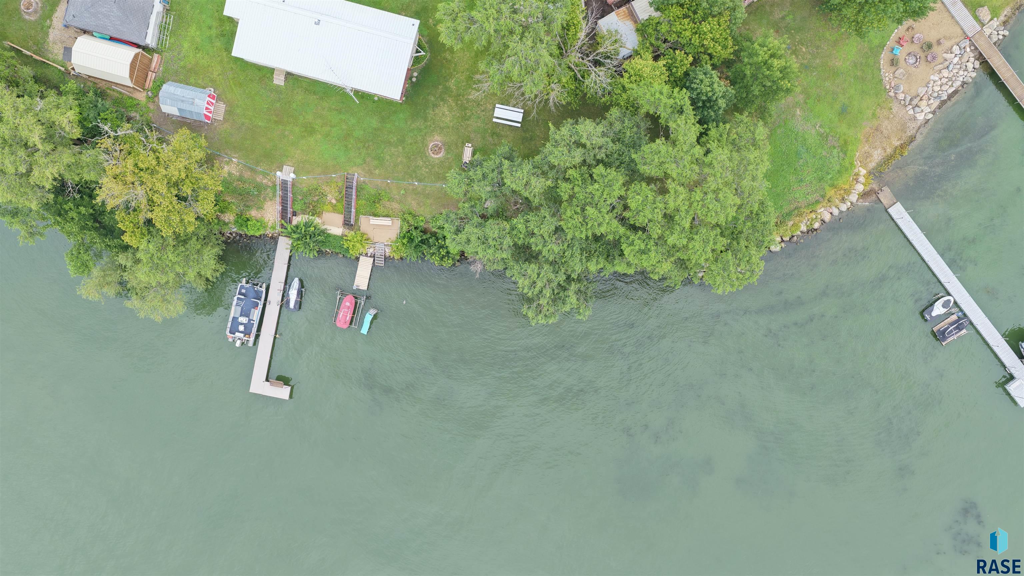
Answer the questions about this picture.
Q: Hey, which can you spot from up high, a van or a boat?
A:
boat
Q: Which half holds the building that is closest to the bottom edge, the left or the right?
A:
left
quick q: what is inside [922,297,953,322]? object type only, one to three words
vessel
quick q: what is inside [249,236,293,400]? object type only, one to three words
pier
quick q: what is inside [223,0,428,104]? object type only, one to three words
house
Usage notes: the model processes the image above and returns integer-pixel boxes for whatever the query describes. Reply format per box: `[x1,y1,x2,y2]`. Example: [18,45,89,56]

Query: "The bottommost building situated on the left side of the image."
[159,82,218,123]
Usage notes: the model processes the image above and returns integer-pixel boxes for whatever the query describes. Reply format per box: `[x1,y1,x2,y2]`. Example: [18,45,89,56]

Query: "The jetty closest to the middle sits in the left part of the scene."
[355,256,374,290]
